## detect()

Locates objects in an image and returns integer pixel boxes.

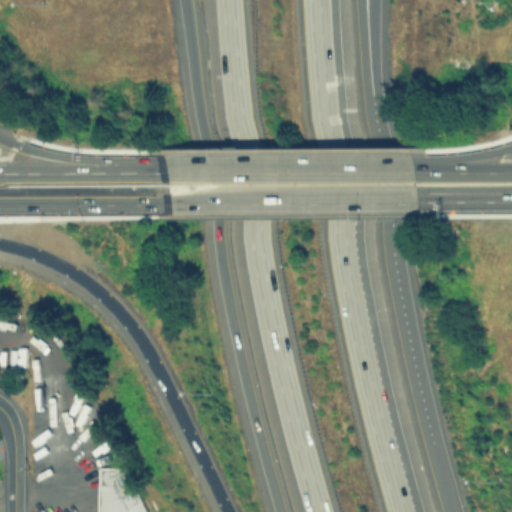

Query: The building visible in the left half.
[98,468,152,512]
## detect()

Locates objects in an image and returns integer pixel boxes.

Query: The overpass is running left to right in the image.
[164,149,418,219]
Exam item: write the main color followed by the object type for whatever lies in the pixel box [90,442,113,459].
white camper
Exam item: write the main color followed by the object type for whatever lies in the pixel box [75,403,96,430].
white camper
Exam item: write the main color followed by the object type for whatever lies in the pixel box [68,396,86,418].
white vehicle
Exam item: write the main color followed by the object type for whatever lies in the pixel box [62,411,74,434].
white vehicle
